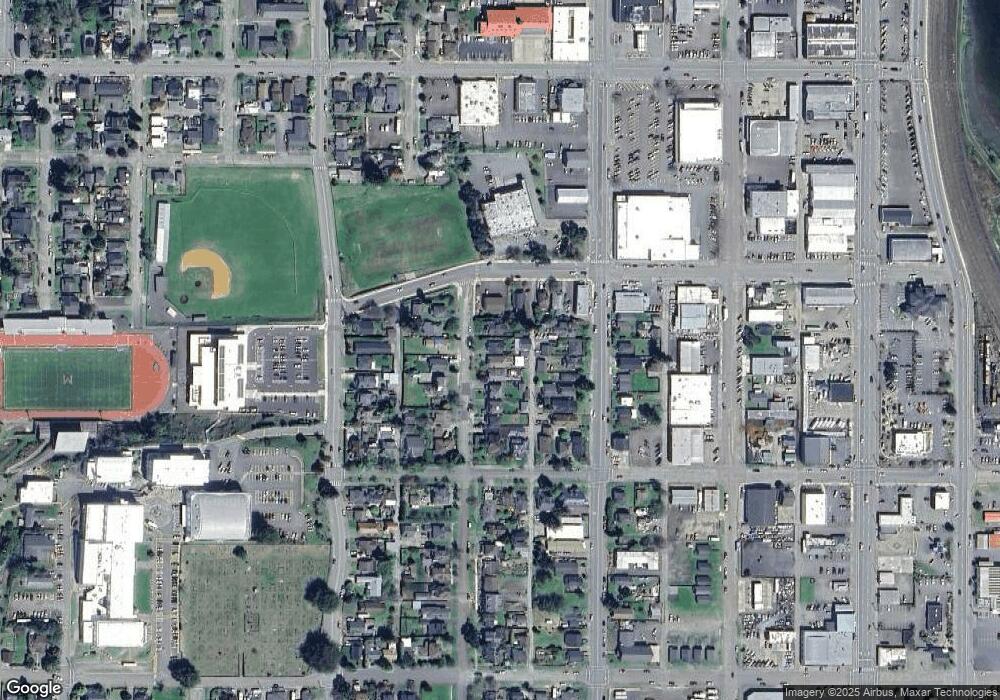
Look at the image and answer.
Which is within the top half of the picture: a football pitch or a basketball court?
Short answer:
football pitch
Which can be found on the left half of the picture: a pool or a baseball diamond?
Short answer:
baseball diamond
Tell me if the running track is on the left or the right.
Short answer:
left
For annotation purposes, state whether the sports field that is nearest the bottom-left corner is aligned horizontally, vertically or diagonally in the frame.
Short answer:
horizontally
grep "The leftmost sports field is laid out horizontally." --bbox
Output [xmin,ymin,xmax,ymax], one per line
[3,347,134,410]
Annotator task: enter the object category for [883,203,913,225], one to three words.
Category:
house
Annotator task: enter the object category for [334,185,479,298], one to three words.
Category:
soccer field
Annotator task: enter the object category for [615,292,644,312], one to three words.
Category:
building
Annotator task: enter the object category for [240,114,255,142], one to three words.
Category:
house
